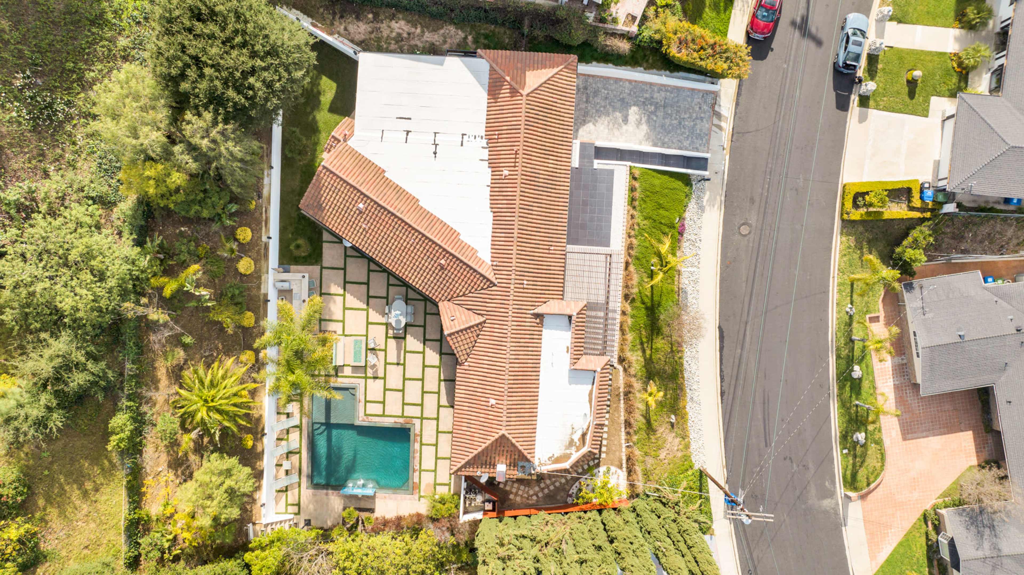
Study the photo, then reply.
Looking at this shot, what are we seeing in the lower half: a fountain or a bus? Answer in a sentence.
It is a fountain that can be seen in the lower half.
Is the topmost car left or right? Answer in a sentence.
The topmost car is on the right side of the image.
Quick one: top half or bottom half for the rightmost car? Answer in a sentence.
It is in the top half that the rightmost car appears.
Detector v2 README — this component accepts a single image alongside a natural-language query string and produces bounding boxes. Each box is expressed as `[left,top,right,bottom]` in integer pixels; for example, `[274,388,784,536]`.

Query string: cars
[837,14,872,73]
[747,0,780,39]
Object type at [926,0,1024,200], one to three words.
house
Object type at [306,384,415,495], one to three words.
swimming pool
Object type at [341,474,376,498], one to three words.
fountain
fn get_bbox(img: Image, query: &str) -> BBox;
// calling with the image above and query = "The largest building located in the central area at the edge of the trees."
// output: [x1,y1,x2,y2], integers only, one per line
[297,48,610,479]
